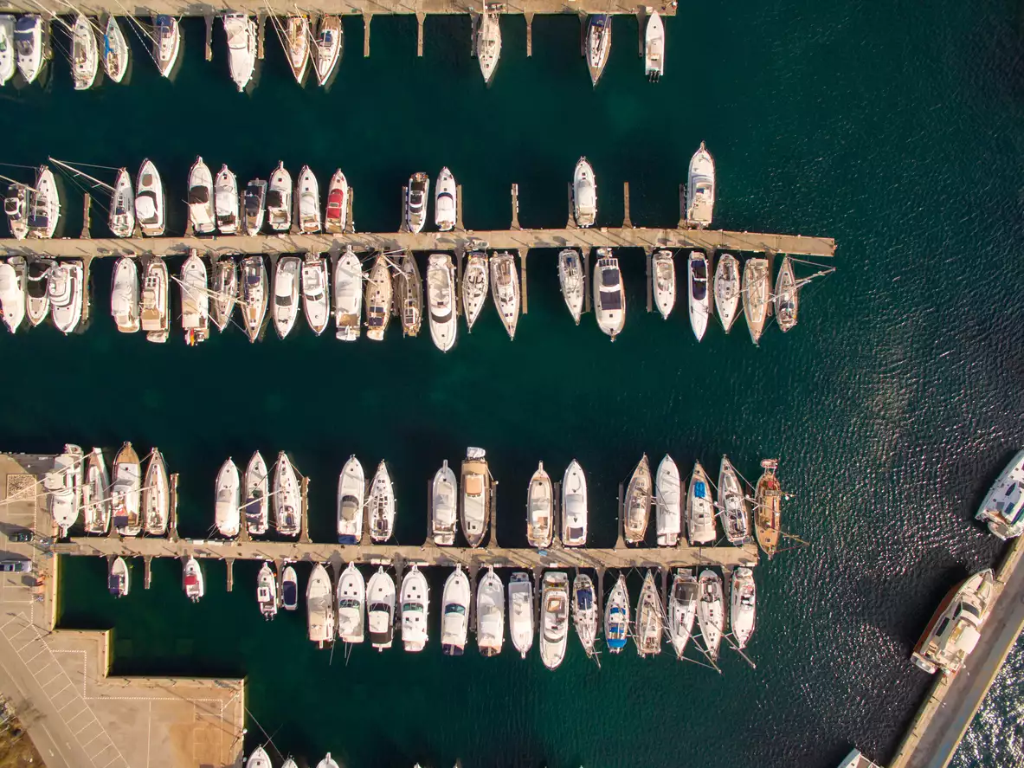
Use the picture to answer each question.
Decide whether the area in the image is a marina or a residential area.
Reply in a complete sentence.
This image shows a marina.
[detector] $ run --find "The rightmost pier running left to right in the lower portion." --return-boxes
[70,473,758,635]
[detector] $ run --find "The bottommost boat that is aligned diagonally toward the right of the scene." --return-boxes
[912,657,932,673]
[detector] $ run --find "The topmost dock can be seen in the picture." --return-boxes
[0,0,676,63]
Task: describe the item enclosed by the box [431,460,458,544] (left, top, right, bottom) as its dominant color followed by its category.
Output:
white boat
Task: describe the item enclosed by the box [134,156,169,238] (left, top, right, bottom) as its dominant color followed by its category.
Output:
white boat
